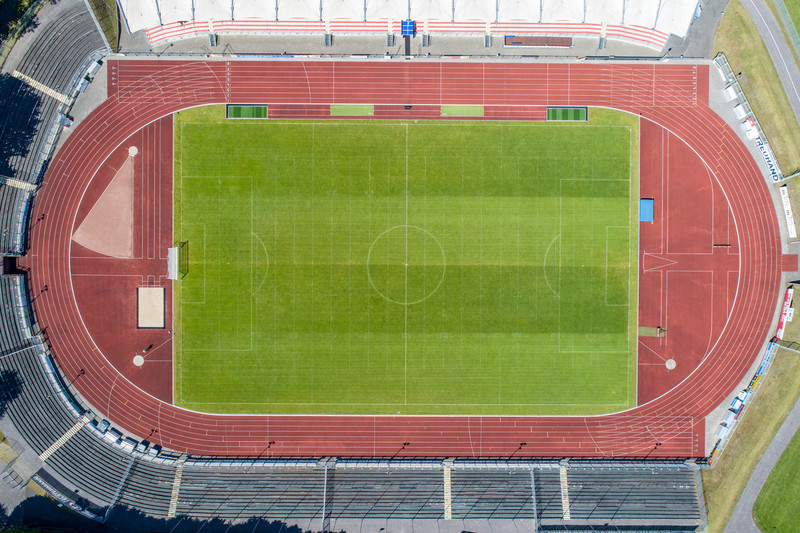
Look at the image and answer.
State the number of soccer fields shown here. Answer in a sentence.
There is 1 soccer field in the image.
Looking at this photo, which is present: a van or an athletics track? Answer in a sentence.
Of the two, only an athletics track appears.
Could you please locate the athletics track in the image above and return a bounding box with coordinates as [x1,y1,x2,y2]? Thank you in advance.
[26,59,782,457]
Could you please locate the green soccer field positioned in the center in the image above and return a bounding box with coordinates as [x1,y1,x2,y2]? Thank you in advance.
[173,103,641,416]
